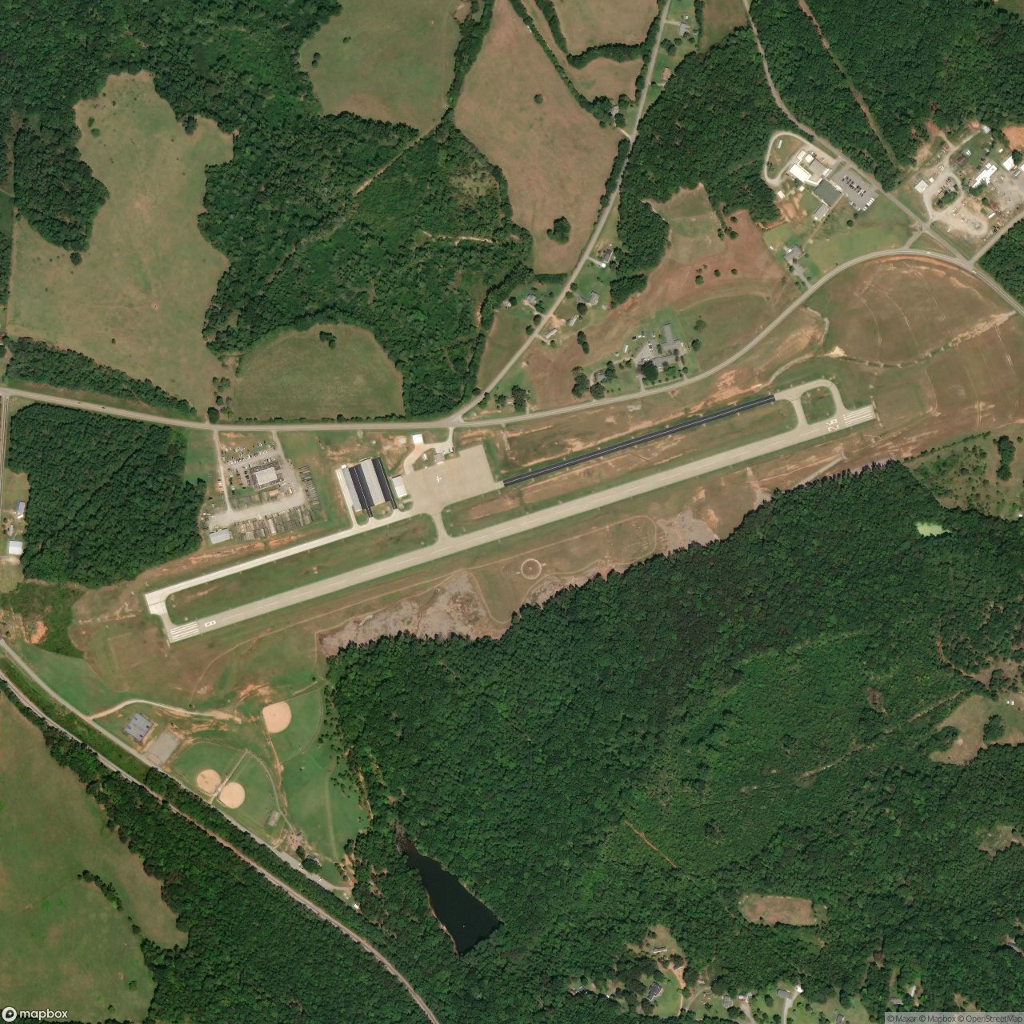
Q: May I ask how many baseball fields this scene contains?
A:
three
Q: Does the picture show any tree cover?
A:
Yes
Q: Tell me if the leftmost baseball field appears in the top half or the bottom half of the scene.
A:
bottom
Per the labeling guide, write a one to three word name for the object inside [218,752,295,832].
baseball field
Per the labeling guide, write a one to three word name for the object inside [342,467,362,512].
hangar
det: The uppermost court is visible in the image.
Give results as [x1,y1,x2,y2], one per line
[123,712,154,743]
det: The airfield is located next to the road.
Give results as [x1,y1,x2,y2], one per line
[145,379,875,643]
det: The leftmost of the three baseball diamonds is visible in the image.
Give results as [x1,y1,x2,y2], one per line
[171,741,239,797]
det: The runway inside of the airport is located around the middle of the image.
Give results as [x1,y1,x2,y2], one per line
[167,404,875,643]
